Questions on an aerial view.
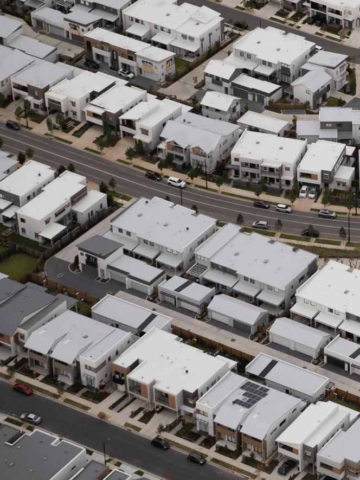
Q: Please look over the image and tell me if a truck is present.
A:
No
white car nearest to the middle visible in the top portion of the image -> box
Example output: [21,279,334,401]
[167,176,187,188]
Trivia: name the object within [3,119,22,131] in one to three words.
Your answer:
vehicle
